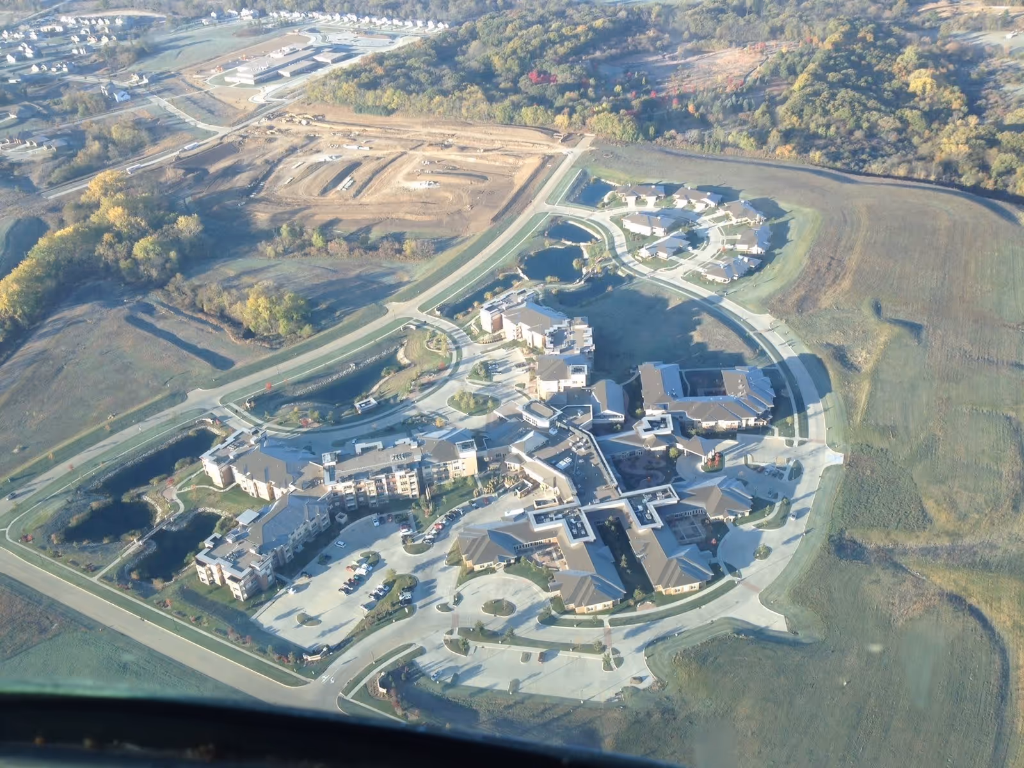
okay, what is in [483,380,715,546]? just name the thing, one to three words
building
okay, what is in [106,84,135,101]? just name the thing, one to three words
barn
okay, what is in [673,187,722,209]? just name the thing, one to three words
house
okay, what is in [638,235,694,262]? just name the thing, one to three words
house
